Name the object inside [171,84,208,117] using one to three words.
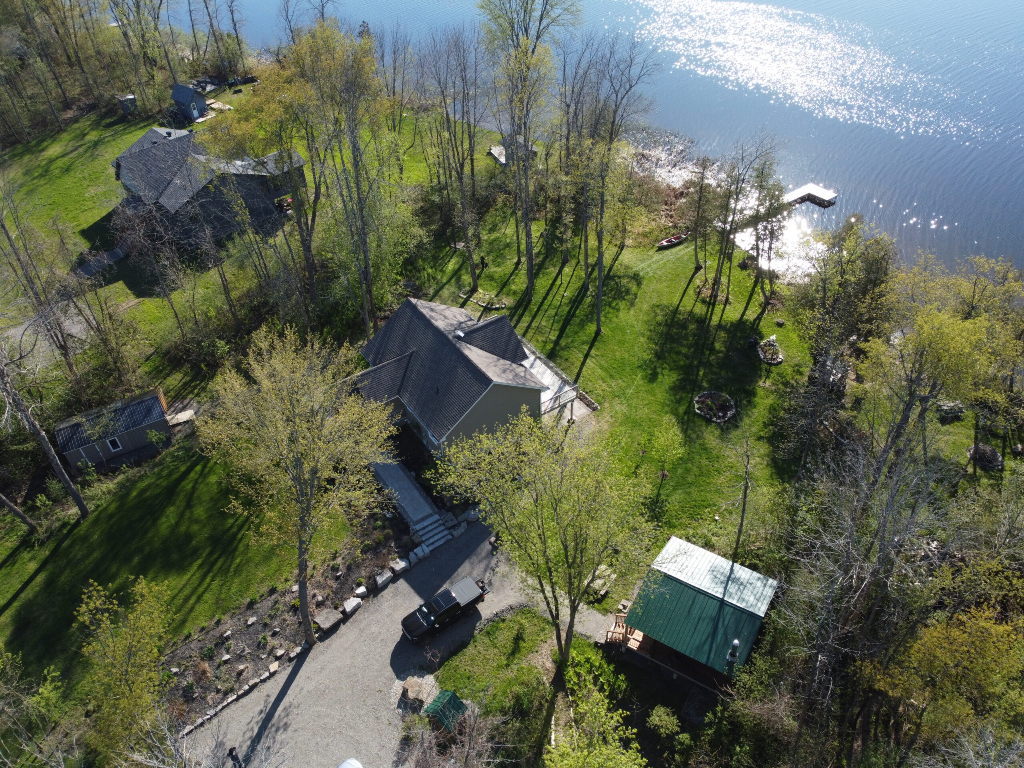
shed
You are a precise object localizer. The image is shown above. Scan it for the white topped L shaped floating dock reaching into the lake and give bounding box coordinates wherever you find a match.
[763,178,840,216]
